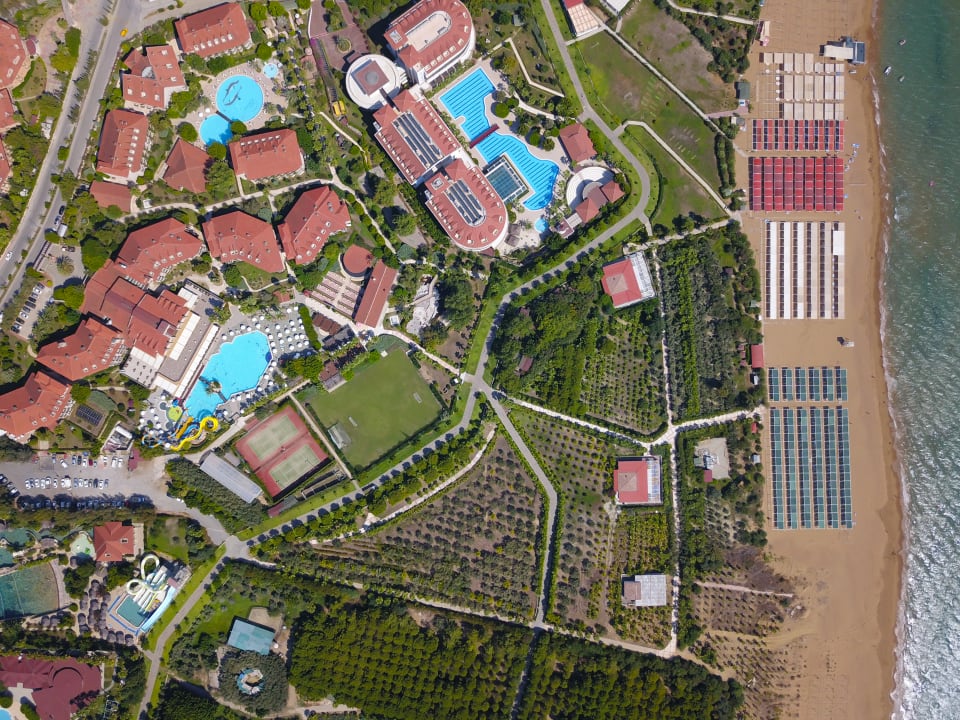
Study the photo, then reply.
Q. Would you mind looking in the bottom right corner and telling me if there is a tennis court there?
No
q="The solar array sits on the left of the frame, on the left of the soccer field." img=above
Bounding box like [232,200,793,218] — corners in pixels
[76,405,103,426]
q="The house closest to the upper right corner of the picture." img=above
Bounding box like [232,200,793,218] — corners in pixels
[849,42,865,67]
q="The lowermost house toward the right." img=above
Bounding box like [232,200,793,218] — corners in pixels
[622,572,667,607]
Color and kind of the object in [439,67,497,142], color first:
blue swimming pool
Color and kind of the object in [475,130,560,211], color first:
blue swimming pool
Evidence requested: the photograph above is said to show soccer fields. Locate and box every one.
[312,351,442,470]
